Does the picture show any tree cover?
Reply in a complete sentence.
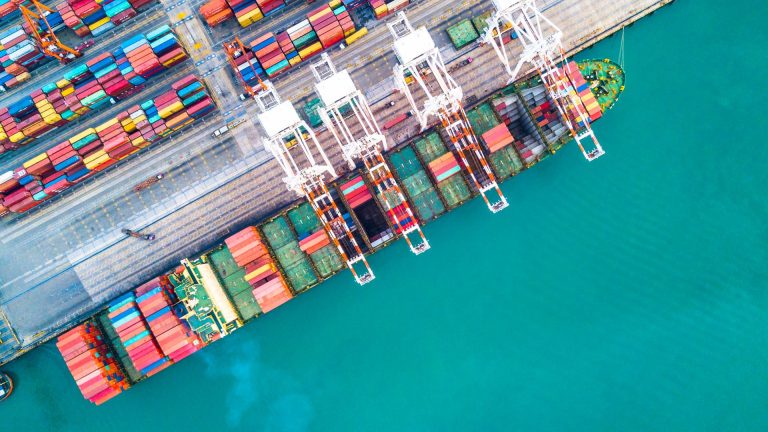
No, tree cover can't be seen anywhere here.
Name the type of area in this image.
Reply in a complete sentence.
What you see here is a port.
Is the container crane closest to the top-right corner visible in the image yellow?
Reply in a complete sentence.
No, the color of the container crane closest to the top-right corner is white.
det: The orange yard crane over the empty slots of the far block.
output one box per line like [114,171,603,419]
[16,0,88,63]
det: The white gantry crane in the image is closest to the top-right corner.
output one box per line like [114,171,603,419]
[475,0,604,164]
